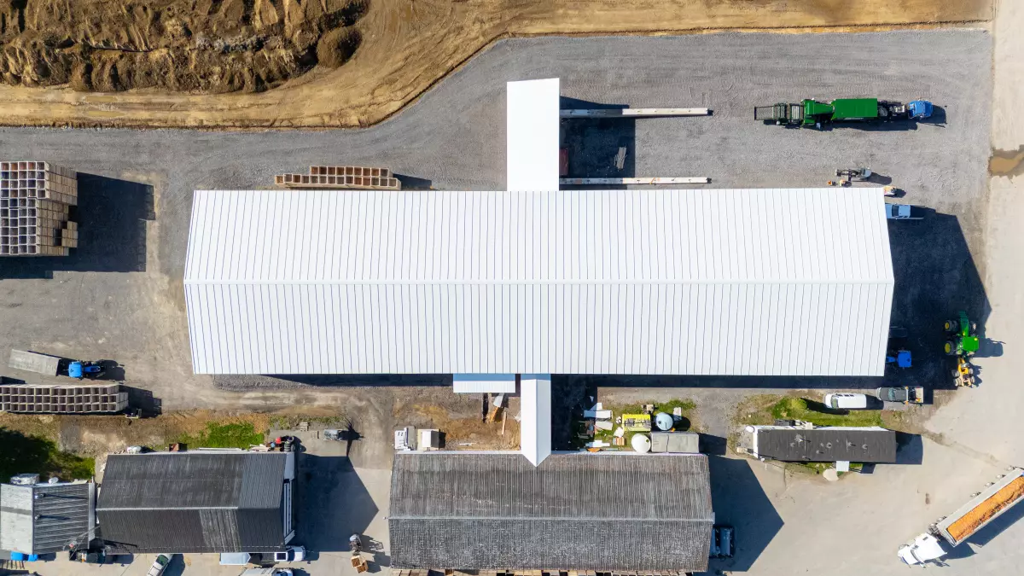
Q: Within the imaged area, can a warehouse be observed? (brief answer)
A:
Yes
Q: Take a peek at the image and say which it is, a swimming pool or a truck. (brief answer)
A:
truck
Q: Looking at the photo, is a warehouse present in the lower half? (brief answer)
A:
Yes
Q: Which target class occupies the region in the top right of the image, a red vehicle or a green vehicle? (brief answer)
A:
green vehicle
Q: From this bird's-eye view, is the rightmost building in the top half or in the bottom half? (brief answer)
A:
bottom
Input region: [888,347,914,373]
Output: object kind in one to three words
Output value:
work vehicle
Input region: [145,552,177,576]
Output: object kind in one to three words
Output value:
truck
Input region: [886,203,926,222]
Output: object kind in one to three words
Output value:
vehicle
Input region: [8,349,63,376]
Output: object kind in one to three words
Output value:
trailer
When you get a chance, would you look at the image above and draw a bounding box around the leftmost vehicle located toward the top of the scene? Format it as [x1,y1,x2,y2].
[753,93,836,120]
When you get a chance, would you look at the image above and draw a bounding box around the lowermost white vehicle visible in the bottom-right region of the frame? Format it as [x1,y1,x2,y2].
[893,519,951,565]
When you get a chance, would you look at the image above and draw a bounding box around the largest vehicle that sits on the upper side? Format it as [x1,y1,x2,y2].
[825,99,932,124]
